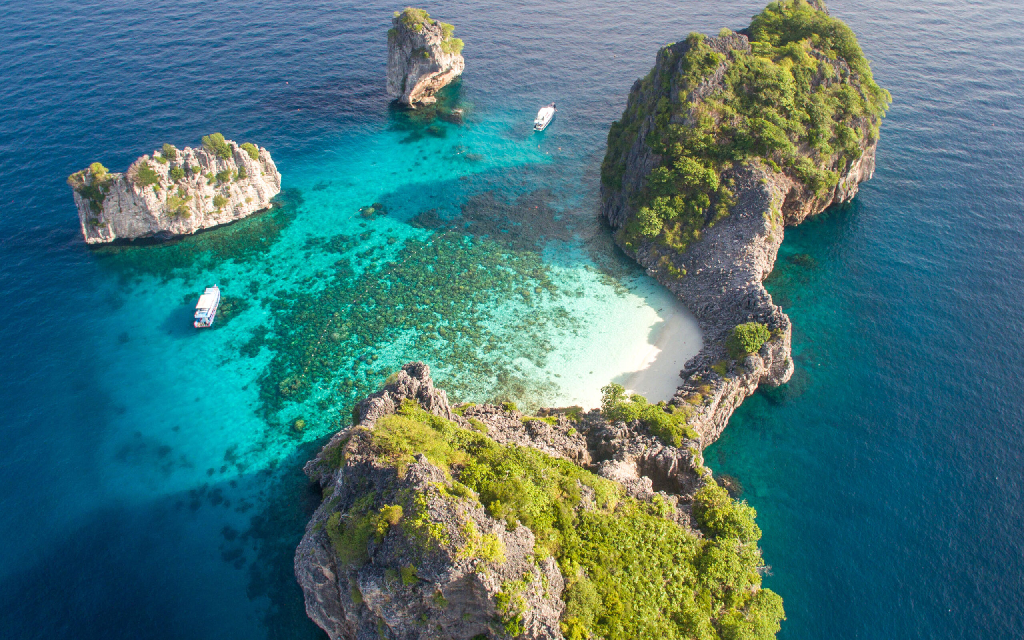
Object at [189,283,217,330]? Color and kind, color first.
white boat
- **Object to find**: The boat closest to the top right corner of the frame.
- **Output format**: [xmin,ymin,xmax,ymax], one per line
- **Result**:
[533,105,555,130]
